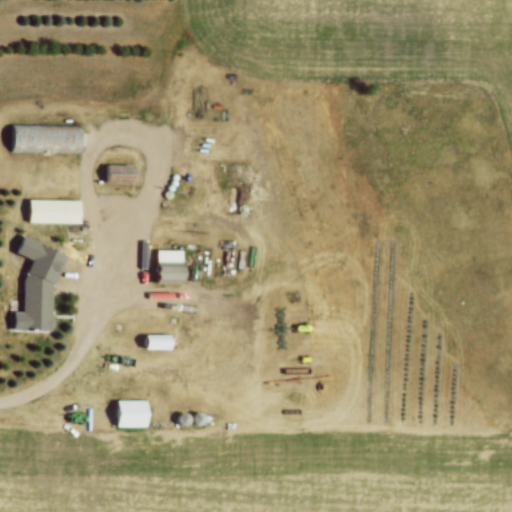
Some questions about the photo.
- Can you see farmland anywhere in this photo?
Yes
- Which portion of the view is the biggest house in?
left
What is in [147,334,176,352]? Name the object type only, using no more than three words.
barn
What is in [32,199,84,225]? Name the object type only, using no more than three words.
shed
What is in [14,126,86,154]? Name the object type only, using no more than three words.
shed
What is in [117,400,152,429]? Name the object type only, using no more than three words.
barn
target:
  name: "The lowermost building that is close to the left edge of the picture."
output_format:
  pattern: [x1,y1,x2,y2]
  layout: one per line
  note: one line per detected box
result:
[10,238,70,333]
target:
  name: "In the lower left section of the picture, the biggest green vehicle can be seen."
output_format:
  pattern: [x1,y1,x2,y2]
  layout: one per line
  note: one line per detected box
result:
[66,407,94,432]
